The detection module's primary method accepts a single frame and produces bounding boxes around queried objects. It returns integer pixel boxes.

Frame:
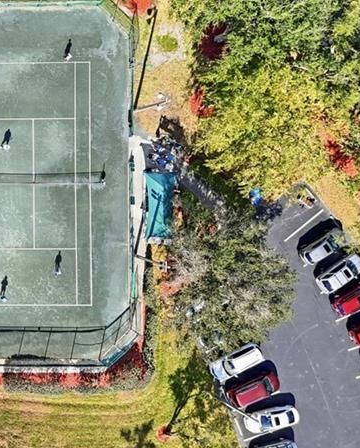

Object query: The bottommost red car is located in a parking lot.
[227,371,279,406]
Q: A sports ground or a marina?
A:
sports ground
